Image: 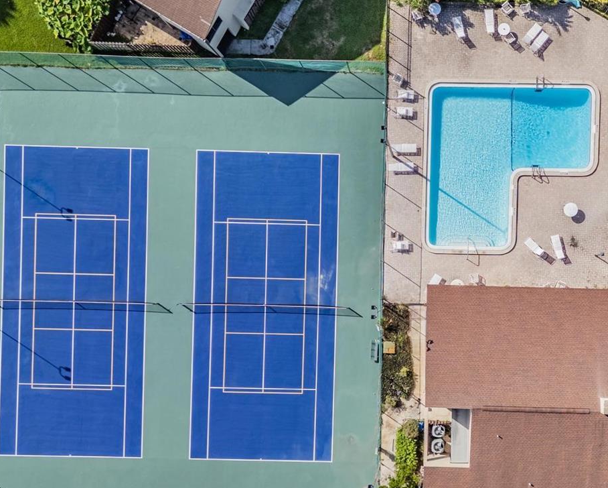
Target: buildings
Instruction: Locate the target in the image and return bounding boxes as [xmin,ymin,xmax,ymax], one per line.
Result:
[423,286,608,488]
[132,0,272,58]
